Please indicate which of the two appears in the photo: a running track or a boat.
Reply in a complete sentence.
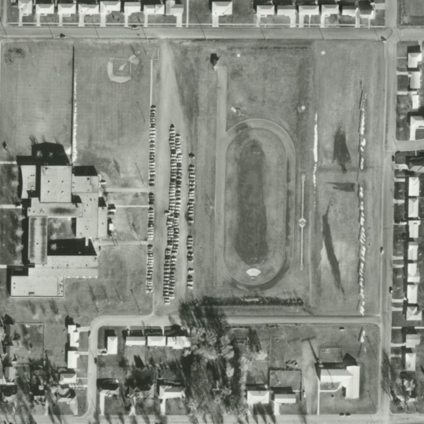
Of the two, only a running track appears.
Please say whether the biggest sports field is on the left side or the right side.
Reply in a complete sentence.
The biggest sports field appears in the right half of the scene.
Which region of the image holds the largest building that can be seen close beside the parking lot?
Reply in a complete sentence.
The largest building that can be seen close beside the parking lot appears toward the left of the photo.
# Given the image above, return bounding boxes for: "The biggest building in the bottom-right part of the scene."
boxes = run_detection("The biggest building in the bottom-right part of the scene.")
[320,366,359,399]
